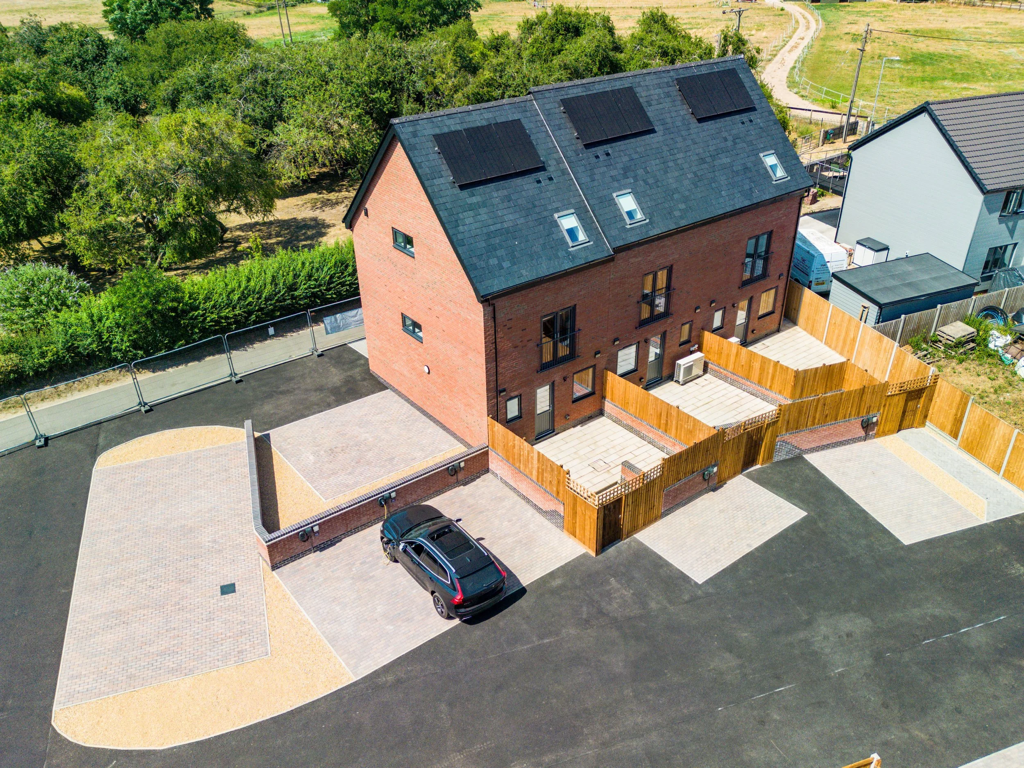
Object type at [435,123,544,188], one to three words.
solar array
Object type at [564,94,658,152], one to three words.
solar array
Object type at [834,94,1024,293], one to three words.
house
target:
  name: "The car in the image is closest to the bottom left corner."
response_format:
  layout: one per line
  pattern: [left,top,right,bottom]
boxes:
[376,497,513,623]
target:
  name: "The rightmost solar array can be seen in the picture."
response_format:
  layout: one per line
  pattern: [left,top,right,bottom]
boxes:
[679,75,758,126]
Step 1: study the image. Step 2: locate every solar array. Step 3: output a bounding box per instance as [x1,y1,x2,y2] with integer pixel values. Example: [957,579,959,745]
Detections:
[564,94,658,152]
[435,123,544,188]
[679,75,758,126]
